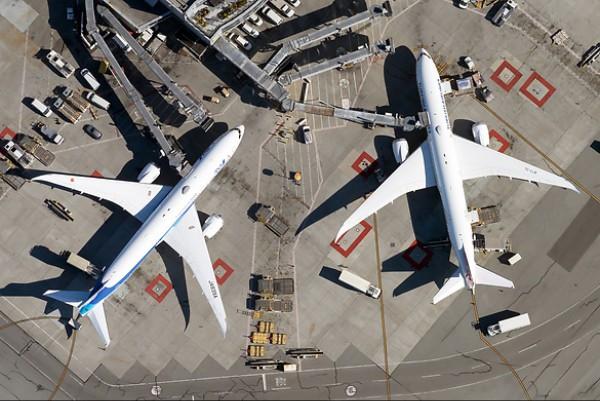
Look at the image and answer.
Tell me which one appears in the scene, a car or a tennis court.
car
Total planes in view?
2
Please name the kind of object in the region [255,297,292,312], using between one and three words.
work vehicle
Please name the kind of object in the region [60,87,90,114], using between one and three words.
truck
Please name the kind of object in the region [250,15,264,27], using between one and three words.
vehicle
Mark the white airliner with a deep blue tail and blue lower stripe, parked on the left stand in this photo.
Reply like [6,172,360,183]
[32,125,244,351]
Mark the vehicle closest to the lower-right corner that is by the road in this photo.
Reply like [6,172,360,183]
[486,313,531,337]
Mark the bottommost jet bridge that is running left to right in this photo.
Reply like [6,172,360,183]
[279,96,425,131]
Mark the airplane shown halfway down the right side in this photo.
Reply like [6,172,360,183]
[335,49,582,308]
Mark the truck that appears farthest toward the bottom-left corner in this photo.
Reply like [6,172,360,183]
[63,254,97,279]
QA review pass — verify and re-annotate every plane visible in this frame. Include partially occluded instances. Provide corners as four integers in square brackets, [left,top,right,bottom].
[32,125,244,351]
[335,49,582,308]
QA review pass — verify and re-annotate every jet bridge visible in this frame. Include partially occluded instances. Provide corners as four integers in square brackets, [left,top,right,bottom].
[261,0,390,75]
[279,96,425,131]
[93,0,214,130]
[83,0,193,174]
[275,38,393,89]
